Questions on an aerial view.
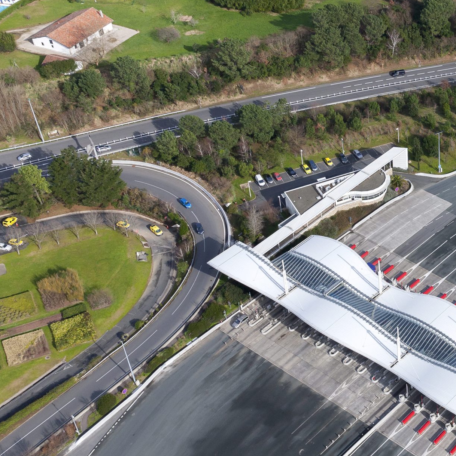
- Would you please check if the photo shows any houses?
Yes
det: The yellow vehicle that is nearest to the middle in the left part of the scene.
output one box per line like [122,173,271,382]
[150,223,163,236]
